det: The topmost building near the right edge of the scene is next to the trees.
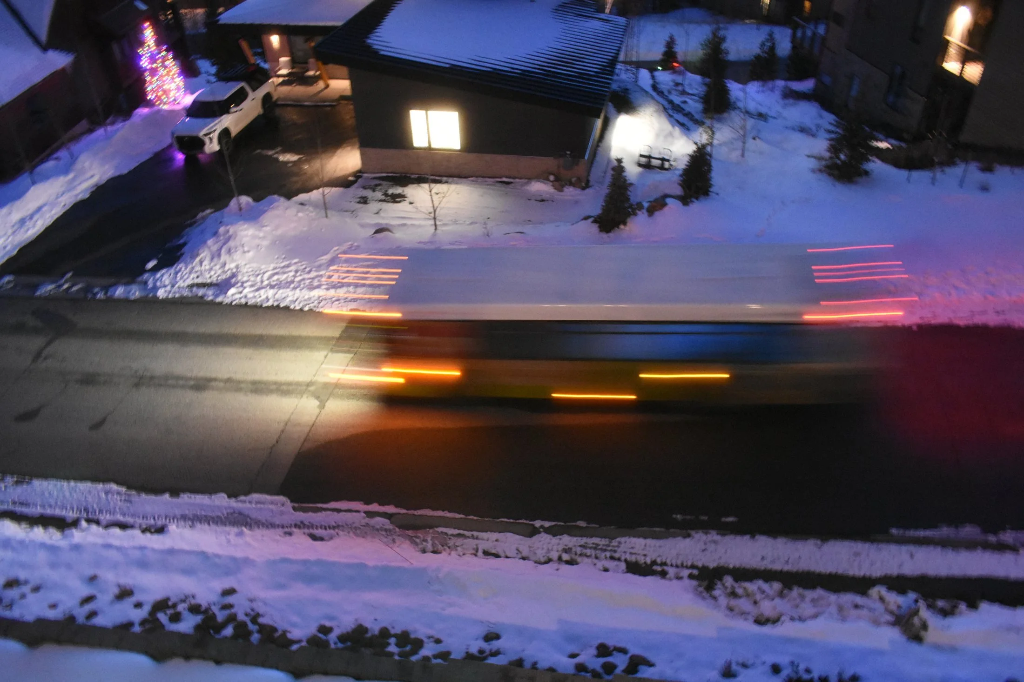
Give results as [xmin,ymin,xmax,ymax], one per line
[793,0,1024,143]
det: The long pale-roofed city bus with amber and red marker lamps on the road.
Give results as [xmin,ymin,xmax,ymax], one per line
[342,254,870,412]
